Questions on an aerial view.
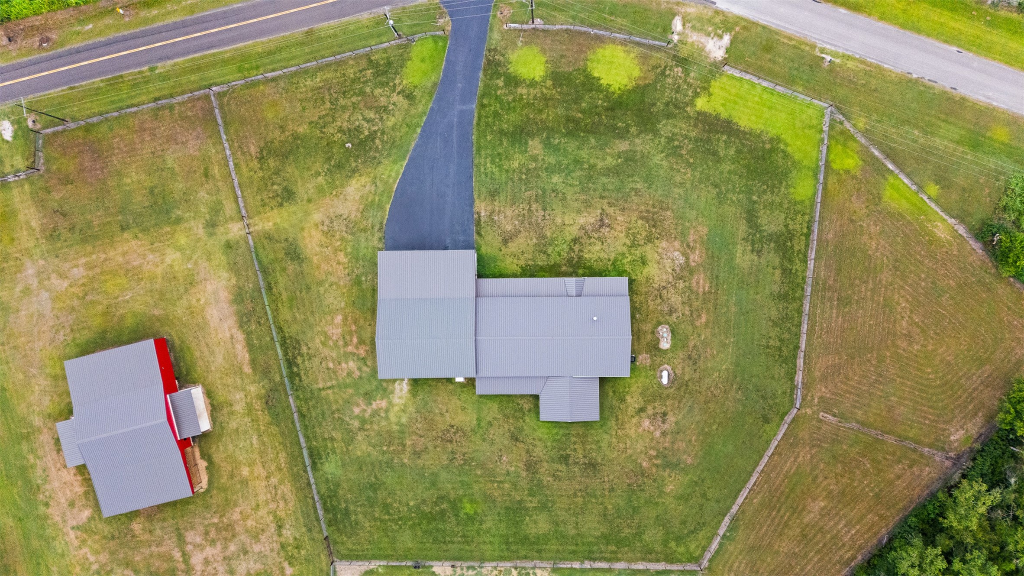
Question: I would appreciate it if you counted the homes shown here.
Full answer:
The picture shows 2 homes.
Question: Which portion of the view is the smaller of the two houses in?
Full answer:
The smaller of the two houses sits in the bottom left section of the image.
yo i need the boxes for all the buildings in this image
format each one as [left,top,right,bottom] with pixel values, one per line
[56,337,211,518]
[375,250,632,422]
